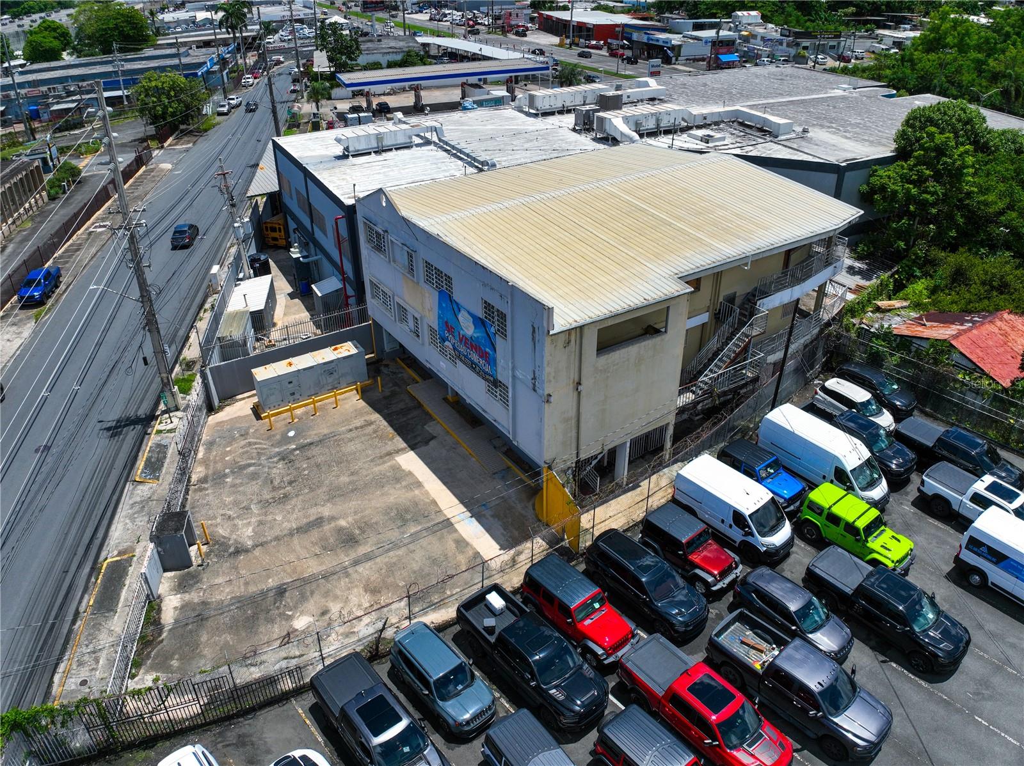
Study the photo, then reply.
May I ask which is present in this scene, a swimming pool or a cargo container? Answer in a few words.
cargo container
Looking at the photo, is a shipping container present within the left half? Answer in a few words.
Yes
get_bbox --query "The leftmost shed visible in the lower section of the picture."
[148,508,197,570]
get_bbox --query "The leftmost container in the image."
[249,339,370,415]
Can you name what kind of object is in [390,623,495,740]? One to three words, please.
car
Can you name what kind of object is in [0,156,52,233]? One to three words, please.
building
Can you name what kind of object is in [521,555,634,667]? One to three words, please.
vehicle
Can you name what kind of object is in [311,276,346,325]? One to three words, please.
shed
